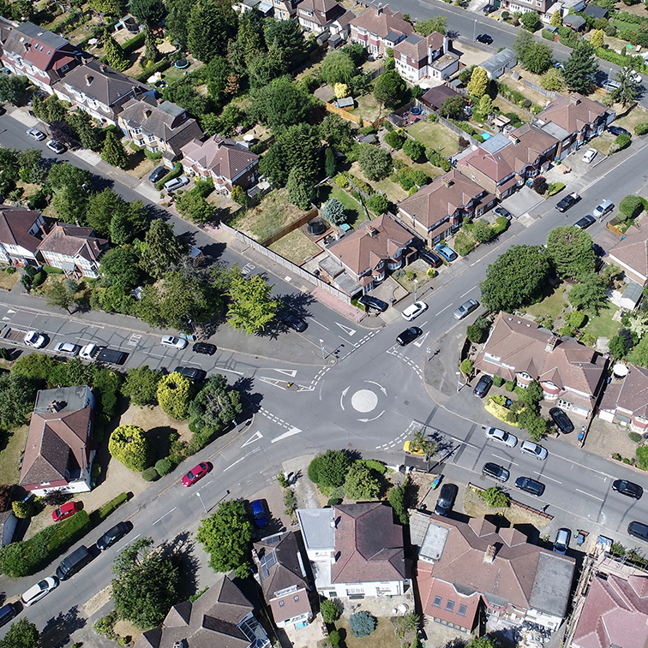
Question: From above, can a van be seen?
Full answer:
Yes, you can see a van in this photo.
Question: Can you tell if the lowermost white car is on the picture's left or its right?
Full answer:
You can find the lowermost white car on the left side of the picture.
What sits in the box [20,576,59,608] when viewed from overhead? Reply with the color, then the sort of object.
white car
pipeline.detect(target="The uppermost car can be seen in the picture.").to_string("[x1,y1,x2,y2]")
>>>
[475,34,494,46]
